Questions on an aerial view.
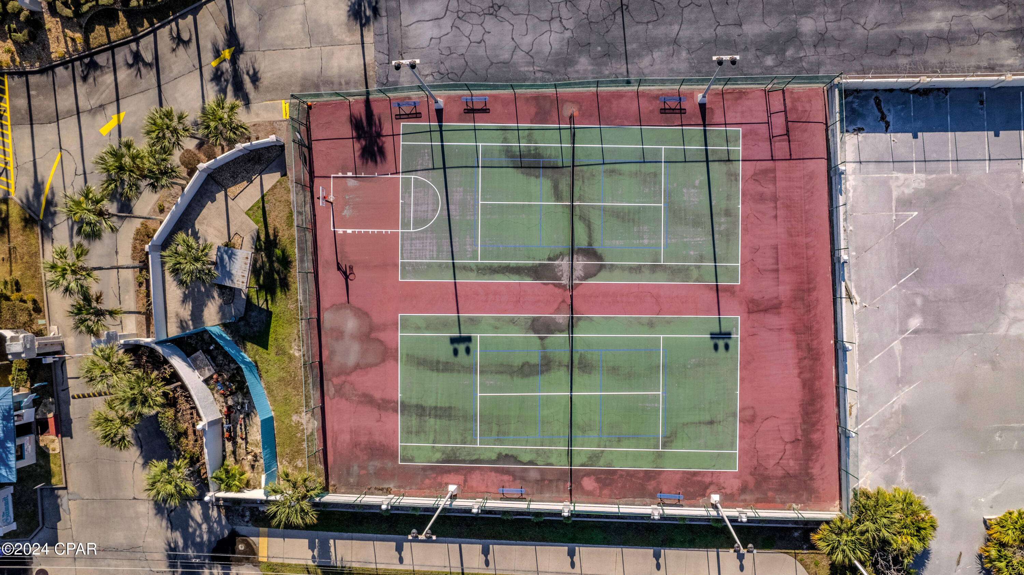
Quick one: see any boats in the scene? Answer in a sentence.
No, no boat can be seen from above.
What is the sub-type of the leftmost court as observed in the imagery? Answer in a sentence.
It turns out the leftmost court is a basketball court.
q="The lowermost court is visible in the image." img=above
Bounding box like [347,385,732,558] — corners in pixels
[398,314,741,472]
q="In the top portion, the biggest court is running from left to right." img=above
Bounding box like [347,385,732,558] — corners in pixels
[398,123,742,284]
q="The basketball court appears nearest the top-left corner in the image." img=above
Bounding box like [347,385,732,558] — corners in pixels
[331,172,441,233]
